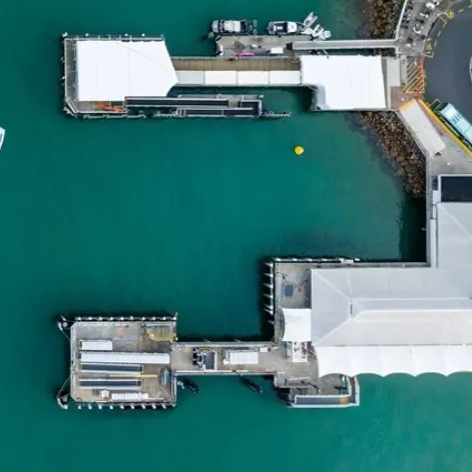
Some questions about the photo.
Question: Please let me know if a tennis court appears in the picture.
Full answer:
No, the frame has no tennis court in it.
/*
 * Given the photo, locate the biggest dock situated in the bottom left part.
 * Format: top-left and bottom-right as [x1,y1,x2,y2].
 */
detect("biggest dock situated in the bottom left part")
[70,318,178,410]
